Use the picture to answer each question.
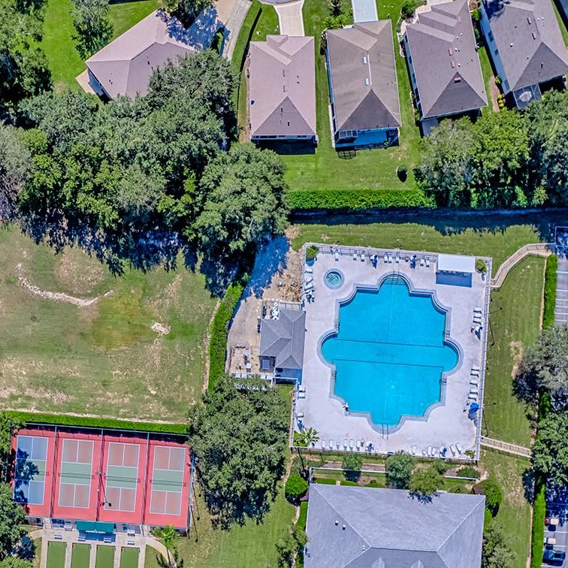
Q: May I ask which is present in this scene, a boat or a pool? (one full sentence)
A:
This aerial view contains a pool.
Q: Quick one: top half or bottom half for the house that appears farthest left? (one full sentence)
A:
The house that appears farthest left sits in the top half of the picture.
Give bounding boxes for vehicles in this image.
[549,519,560,525]
[546,549,568,560]
[548,537,557,545]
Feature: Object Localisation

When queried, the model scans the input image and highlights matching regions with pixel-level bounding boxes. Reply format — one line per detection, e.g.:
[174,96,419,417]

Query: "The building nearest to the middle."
[258,309,305,370]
